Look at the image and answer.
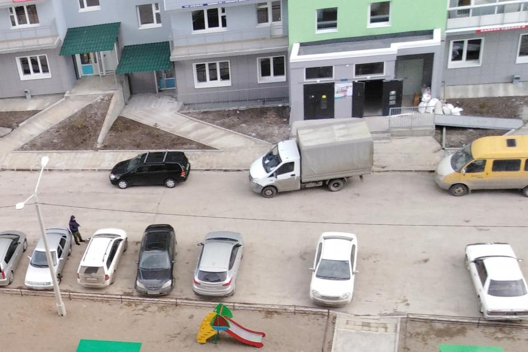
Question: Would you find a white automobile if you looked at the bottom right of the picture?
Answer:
Yes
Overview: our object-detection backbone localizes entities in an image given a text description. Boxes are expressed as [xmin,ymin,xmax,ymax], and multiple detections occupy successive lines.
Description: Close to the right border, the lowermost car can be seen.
[465,245,528,324]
